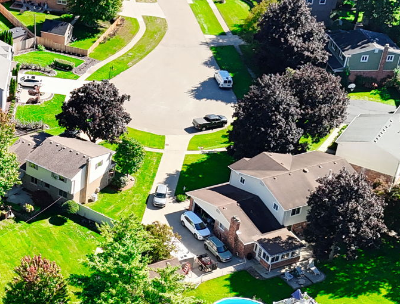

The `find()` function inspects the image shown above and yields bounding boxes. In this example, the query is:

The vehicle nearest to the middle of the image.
[192,114,232,132]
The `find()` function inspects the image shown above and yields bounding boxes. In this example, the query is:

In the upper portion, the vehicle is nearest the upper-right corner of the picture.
[214,66,234,86]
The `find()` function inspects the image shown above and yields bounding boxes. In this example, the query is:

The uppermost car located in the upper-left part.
[17,75,45,89]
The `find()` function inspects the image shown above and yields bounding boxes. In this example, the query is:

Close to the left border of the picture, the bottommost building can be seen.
[11,131,109,204]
